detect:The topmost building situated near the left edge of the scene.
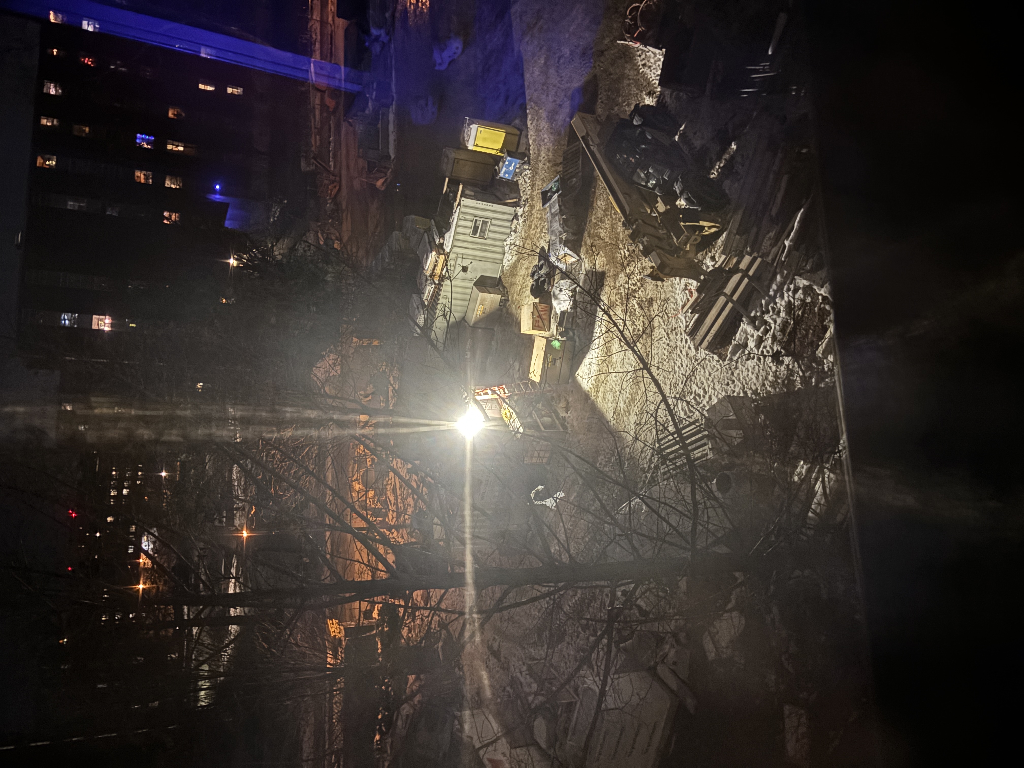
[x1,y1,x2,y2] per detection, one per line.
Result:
[15,0,265,388]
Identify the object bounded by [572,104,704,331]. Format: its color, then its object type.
black work vehicle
